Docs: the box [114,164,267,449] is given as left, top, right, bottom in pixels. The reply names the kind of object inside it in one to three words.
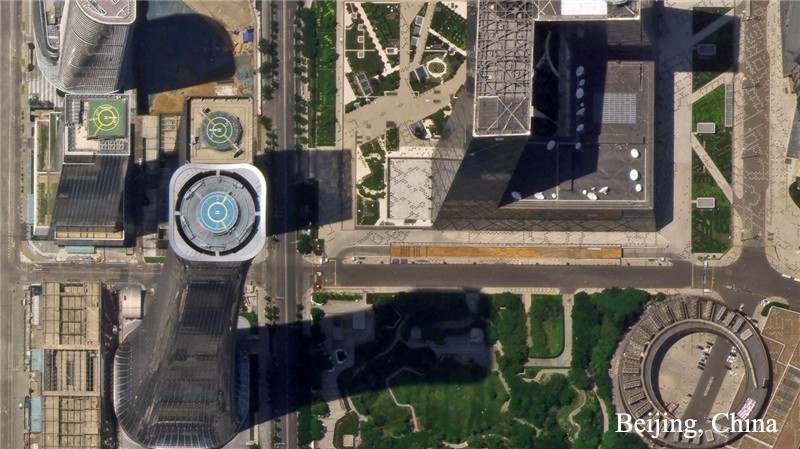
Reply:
building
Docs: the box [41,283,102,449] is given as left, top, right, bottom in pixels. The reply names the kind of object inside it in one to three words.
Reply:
building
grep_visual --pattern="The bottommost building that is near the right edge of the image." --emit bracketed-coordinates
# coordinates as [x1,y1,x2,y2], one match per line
[616,296,771,449]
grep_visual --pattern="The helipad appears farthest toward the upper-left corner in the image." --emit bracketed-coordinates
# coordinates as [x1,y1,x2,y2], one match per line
[87,97,127,138]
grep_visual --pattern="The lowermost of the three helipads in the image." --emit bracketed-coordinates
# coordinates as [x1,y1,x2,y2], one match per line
[199,194,237,231]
